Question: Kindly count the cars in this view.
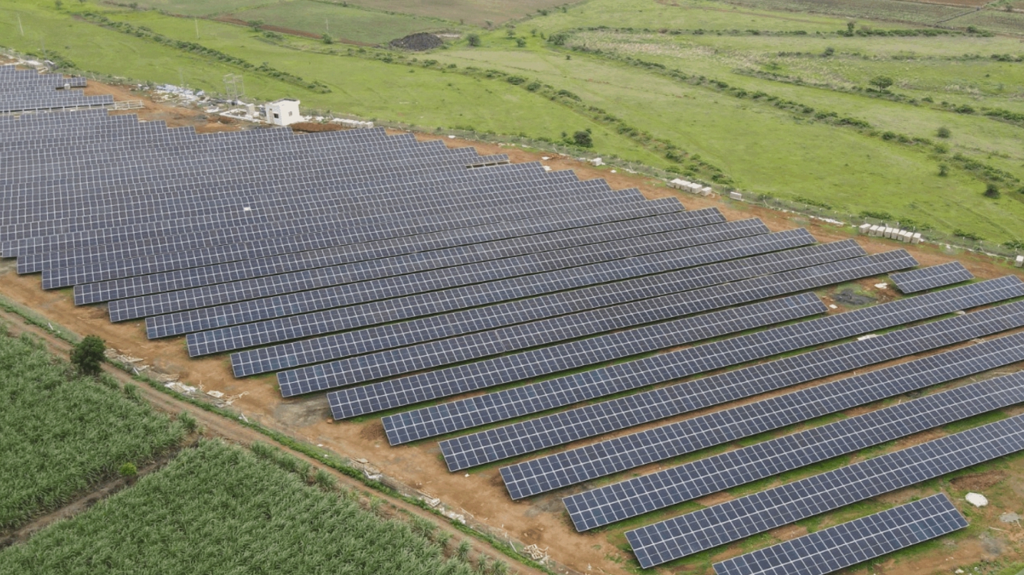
zero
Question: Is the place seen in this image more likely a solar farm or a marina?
solar farm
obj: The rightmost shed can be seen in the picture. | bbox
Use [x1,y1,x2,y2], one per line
[264,99,298,125]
